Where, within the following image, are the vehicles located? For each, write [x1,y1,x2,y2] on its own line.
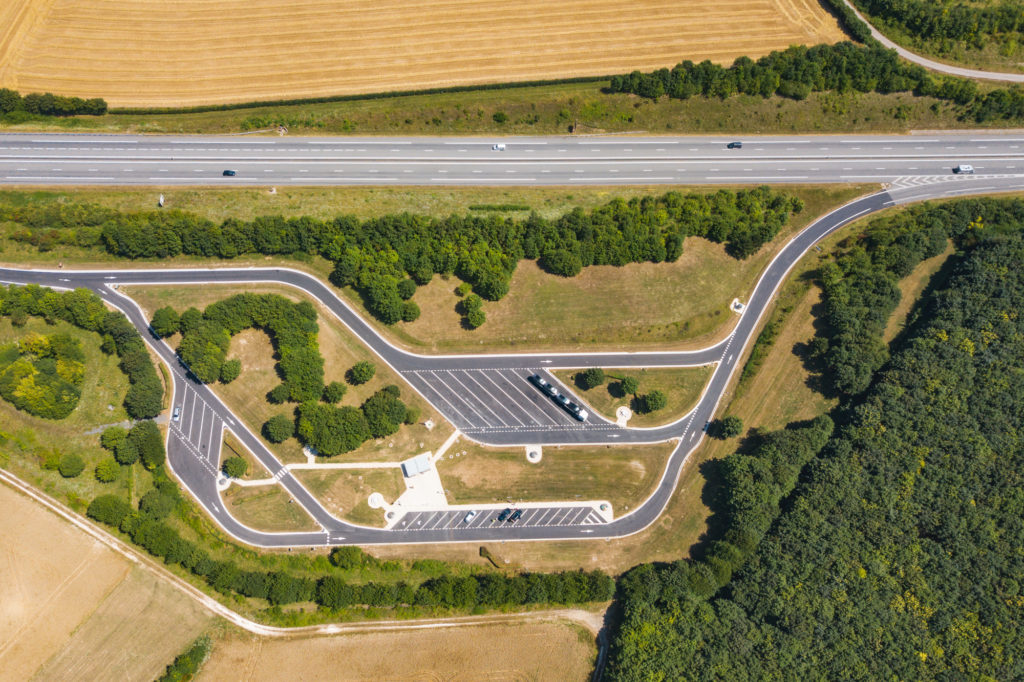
[223,170,236,176]
[172,407,181,422]
[558,392,571,404]
[491,142,506,151]
[728,143,741,149]
[497,508,510,522]
[548,383,561,395]
[569,400,582,412]
[536,375,590,421]
[508,509,523,524]
[463,510,477,524]
[955,165,973,174]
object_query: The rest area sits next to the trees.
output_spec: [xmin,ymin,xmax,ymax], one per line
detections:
[0,189,894,548]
